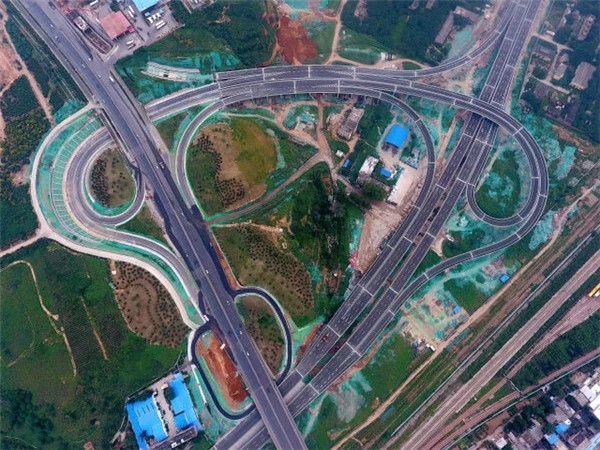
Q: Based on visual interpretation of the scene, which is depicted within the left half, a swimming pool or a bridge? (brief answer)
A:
bridge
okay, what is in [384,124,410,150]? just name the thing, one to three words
building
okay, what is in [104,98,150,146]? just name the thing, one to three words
bridge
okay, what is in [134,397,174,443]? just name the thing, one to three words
building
